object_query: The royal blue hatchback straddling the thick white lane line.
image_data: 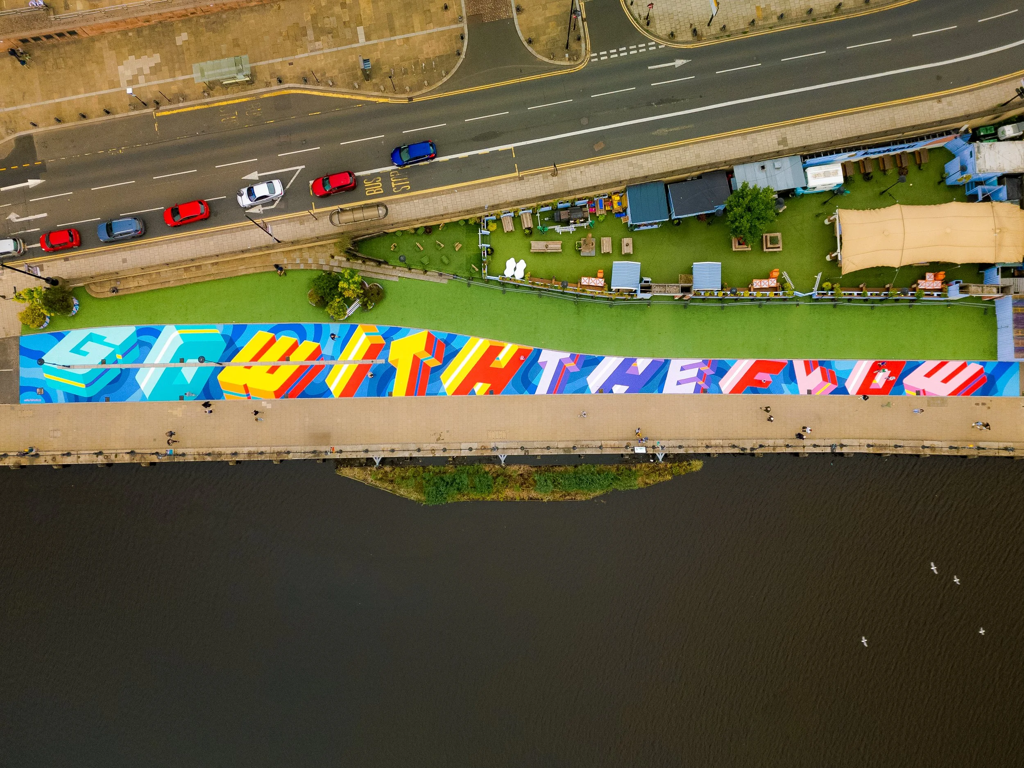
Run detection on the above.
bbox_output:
[392,141,436,168]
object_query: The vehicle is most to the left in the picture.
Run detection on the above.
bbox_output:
[0,235,27,259]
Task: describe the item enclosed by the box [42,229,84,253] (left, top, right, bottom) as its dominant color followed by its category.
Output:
red car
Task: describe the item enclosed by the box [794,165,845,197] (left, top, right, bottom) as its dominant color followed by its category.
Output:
white van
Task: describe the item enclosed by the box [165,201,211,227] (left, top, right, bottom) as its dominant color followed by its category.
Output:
red car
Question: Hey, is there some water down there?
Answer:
Yes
